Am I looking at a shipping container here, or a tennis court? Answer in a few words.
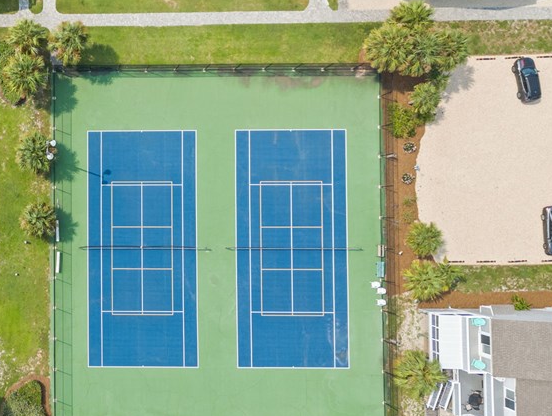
tennis court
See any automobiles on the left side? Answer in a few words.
No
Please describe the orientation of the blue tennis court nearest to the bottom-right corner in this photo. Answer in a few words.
vertically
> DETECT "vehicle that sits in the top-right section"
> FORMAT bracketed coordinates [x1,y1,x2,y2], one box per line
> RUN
[513,57,544,103]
